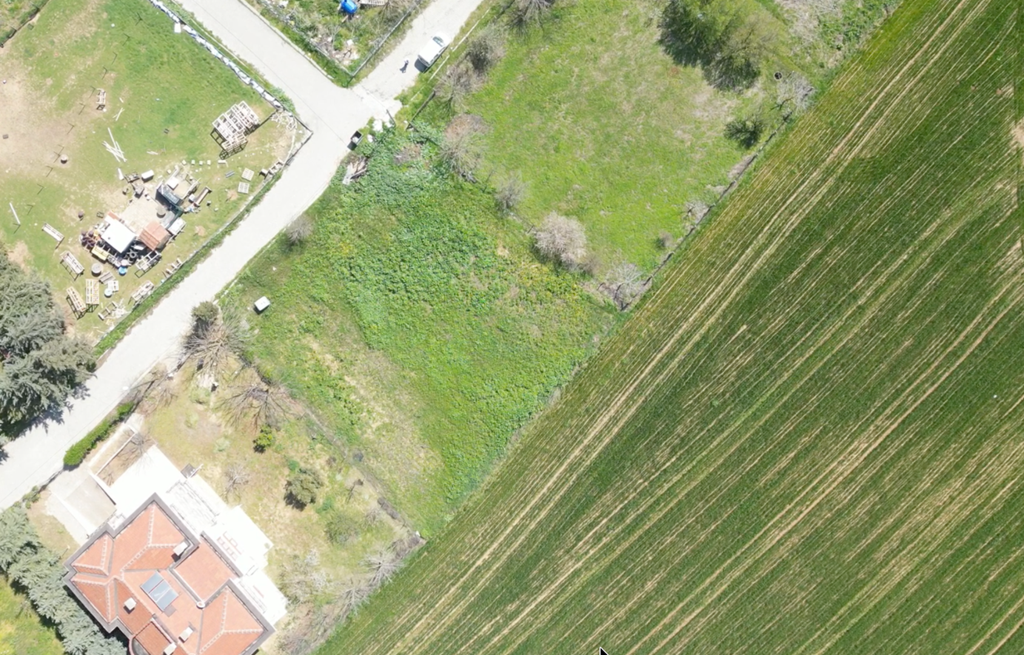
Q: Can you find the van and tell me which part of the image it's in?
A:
top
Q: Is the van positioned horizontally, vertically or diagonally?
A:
diagonally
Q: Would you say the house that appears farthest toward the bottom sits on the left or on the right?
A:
left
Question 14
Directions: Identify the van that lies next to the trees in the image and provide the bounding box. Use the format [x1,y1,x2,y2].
[418,33,453,68]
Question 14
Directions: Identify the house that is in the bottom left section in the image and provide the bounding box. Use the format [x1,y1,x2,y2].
[62,492,275,655]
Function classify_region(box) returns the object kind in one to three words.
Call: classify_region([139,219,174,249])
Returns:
shed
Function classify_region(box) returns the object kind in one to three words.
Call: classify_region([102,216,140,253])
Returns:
shed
